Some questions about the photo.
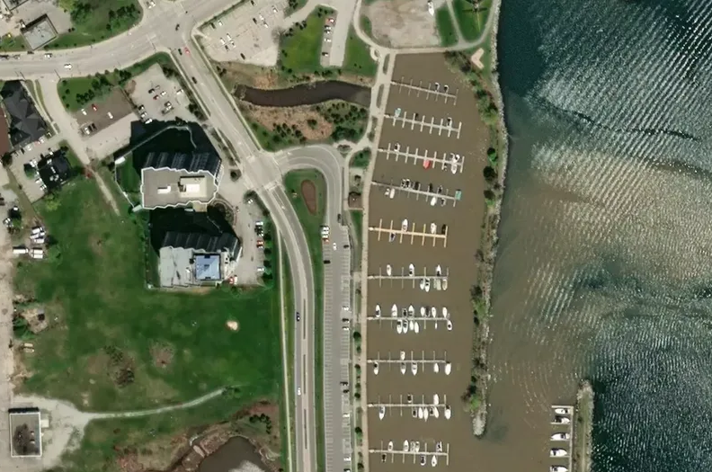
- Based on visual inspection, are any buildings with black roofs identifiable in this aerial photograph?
Yes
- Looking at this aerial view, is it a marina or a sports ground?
marina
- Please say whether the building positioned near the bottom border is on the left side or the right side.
left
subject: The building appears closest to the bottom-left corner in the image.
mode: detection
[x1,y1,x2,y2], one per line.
[9,411,50,456]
